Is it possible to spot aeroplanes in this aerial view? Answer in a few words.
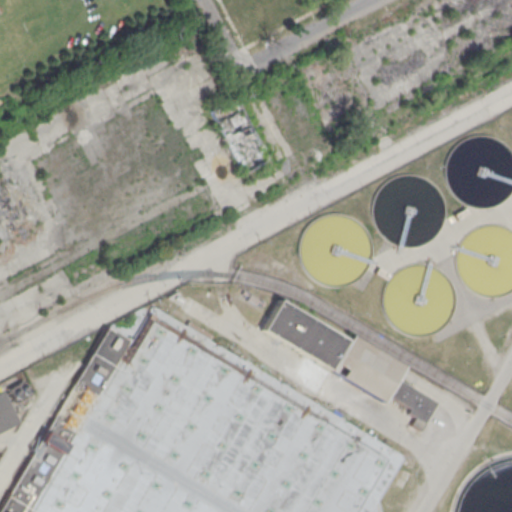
No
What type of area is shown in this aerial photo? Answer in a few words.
industrial area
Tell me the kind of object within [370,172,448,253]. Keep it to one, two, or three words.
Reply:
storage tank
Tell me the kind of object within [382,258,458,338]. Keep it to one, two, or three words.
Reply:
storage tank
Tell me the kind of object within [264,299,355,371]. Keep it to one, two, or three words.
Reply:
building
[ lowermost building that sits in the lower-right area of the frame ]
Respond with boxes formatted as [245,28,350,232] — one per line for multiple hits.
[394,384,440,430]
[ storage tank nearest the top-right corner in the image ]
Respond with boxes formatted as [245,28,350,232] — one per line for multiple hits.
[443,133,512,209]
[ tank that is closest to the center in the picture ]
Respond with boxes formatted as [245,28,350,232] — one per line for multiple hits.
[297,212,378,288]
